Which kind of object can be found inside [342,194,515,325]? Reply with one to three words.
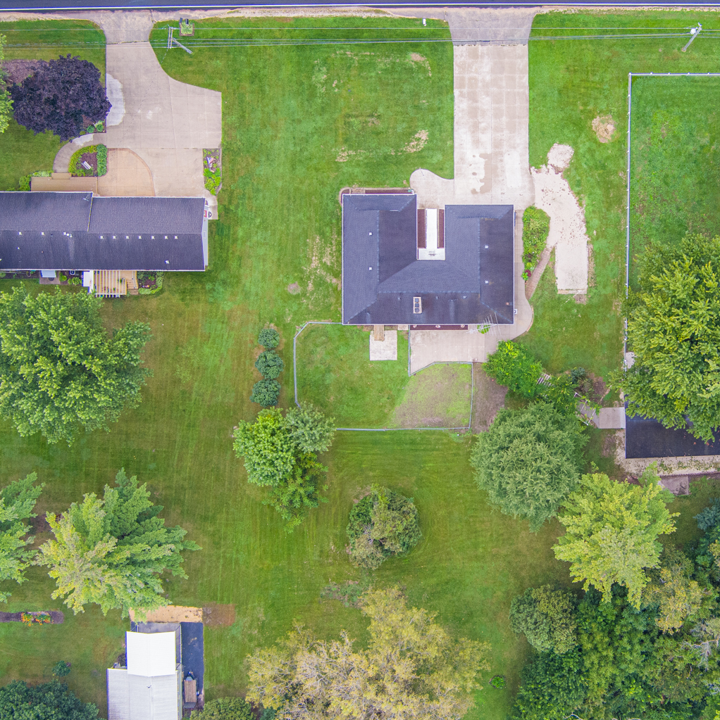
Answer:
house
